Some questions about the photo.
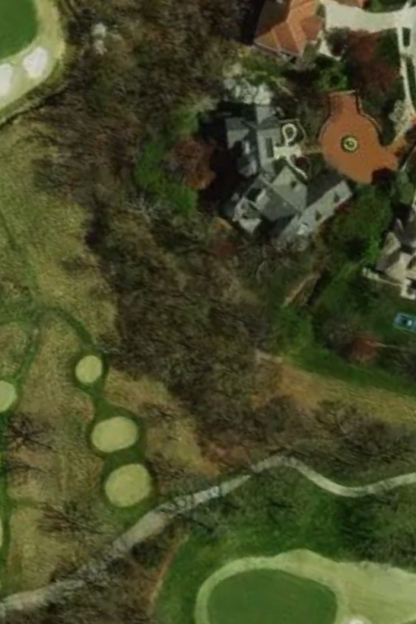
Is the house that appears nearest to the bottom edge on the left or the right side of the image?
right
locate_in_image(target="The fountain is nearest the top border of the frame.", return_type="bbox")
[340,134,358,152]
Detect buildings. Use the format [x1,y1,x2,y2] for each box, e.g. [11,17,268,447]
[370,206,416,292]
[225,107,355,242]
[254,0,367,62]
